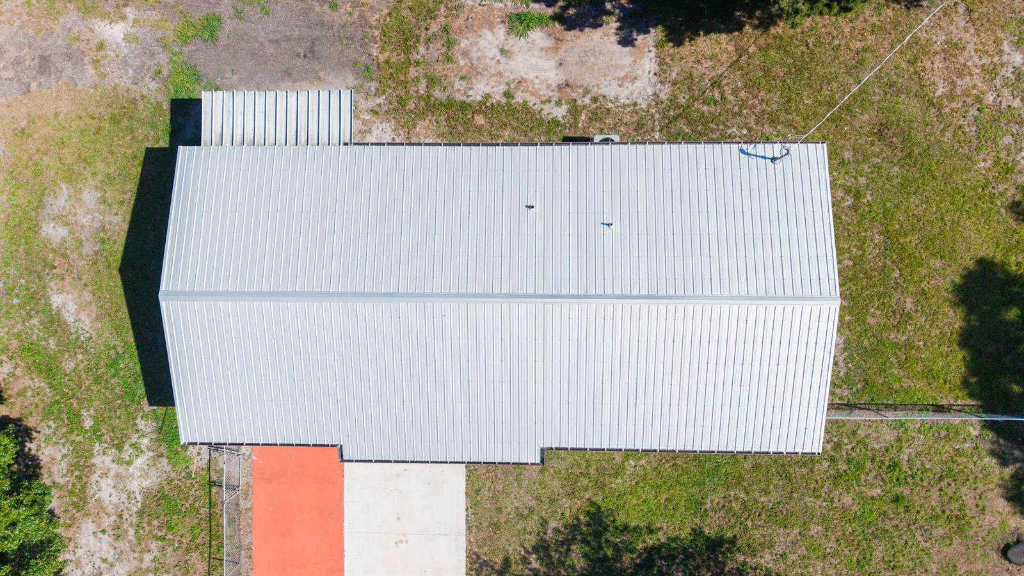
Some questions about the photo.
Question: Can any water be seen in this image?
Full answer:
No, water can't be seen anywhere here.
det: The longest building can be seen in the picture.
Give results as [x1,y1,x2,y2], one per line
[158,133,842,466]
